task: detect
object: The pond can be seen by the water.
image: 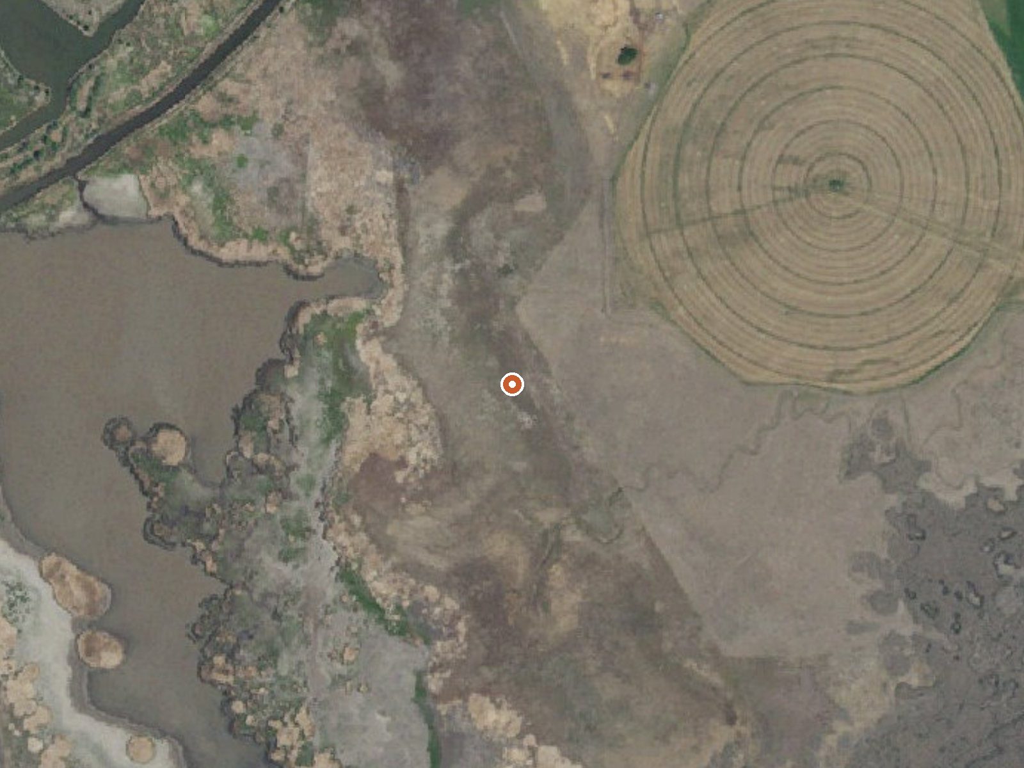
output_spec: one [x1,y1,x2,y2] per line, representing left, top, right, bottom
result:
[0,0,145,152]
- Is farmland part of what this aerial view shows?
Yes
